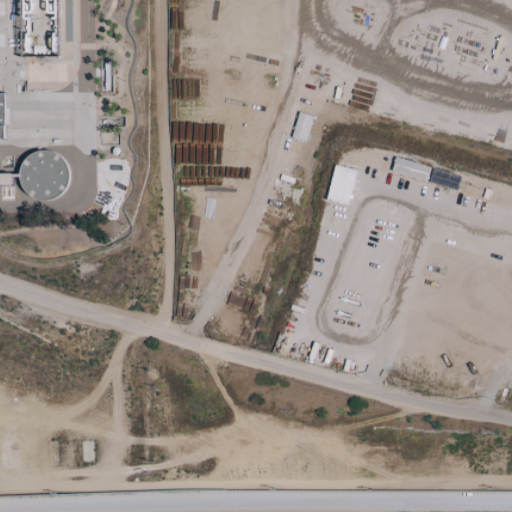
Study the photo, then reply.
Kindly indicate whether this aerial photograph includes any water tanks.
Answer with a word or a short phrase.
Yes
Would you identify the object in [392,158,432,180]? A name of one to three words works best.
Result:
building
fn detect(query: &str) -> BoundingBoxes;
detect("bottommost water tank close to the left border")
[12,148,72,201]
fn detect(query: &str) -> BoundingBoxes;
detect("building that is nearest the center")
[328,164,358,205]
